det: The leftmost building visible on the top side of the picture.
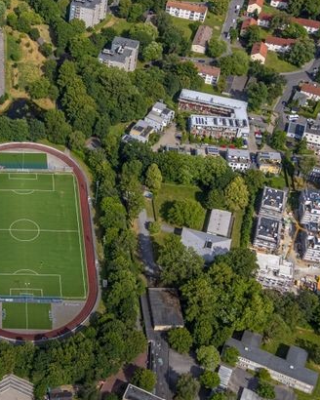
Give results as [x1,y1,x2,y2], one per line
[69,0,107,34]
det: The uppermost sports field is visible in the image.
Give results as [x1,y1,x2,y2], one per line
[0,153,47,168]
